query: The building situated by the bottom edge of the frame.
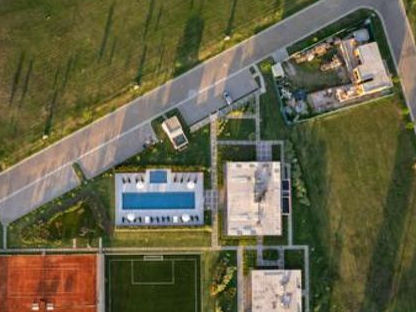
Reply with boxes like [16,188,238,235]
[249,268,302,312]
